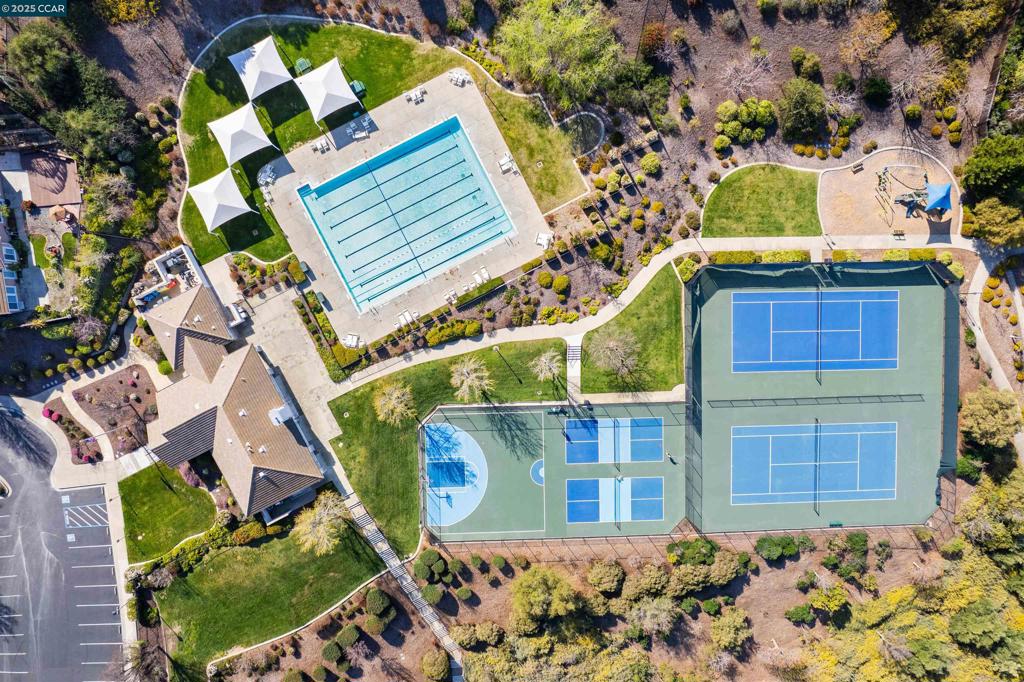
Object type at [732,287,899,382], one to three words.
tennis court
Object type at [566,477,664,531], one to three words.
sports court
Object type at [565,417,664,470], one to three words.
sports court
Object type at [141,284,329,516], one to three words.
building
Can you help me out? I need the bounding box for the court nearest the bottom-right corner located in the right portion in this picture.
[731,419,897,516]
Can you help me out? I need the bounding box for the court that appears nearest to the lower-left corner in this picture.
[426,412,545,534]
